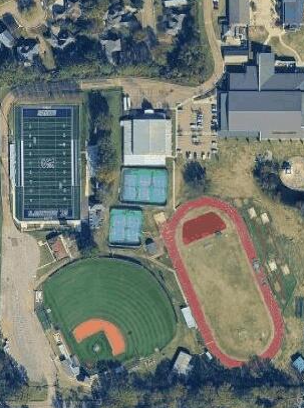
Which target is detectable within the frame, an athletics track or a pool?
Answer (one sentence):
Of the two, only an athletics track appears.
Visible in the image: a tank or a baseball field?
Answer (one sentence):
I can see a baseball field in this picture.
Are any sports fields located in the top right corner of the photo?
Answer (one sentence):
No, I see no sports field in the top right corner of the photo.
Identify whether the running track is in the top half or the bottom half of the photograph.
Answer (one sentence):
Seen from above, the running track lies in the bottom half of the view.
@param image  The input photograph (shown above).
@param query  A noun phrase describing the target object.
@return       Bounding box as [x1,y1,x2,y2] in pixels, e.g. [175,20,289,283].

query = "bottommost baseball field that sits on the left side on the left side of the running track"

[37,258,176,371]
